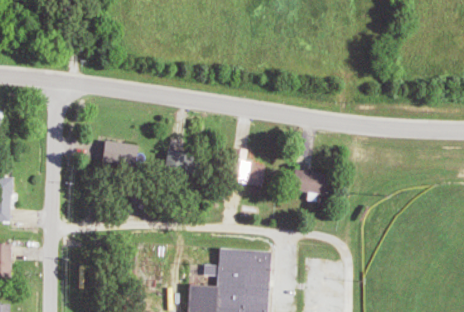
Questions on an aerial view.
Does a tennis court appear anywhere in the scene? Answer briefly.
No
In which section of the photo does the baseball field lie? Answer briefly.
bottom right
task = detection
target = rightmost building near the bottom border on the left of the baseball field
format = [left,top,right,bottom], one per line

[188,249,272,312]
